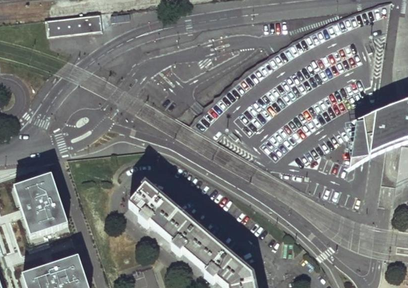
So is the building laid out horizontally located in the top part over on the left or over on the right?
left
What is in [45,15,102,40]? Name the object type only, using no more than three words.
building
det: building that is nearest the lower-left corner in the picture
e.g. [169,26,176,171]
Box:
[20,254,88,288]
